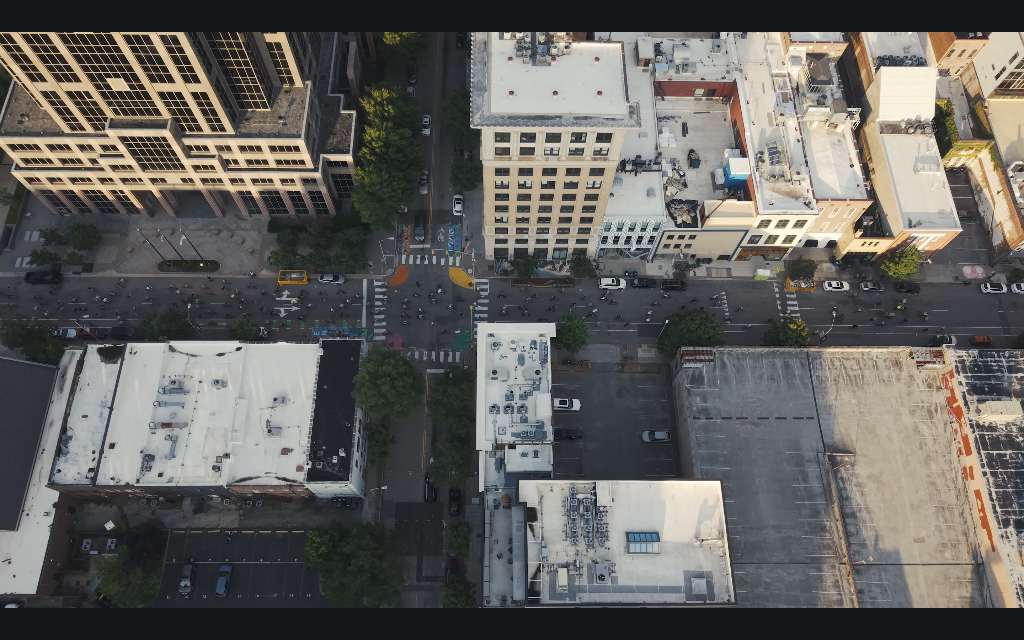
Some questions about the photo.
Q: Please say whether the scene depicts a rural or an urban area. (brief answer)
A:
urban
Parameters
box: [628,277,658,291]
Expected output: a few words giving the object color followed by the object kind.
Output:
black car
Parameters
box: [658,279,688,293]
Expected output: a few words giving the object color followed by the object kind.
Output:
black car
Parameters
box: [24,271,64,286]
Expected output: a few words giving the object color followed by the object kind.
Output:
black vehicle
